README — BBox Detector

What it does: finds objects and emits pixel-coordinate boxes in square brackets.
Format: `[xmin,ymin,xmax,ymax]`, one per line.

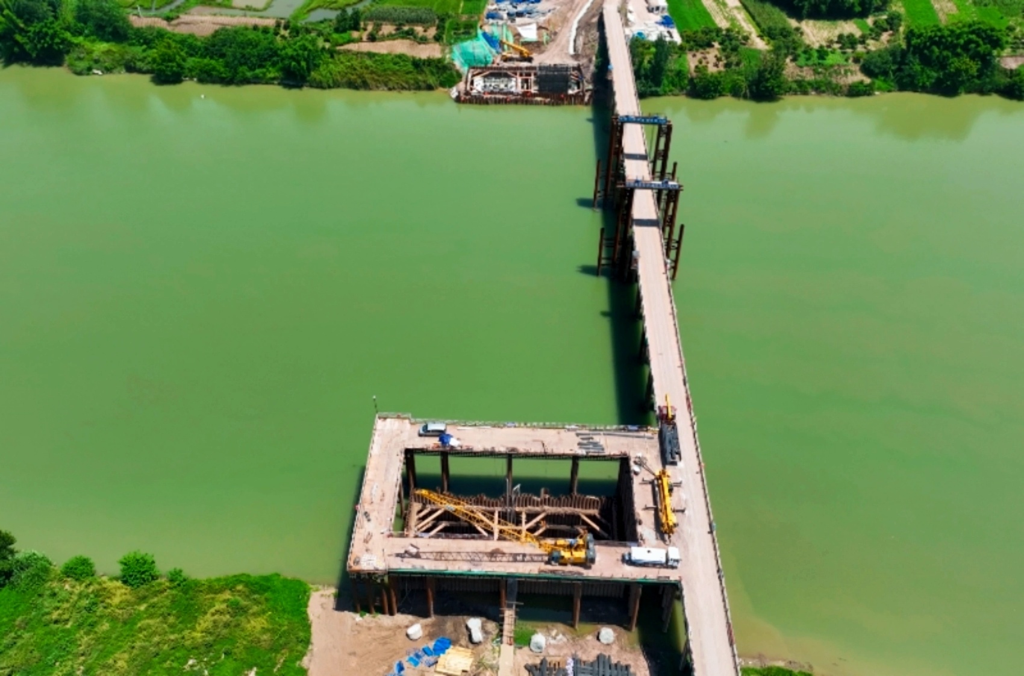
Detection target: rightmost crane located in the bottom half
[641,466,688,541]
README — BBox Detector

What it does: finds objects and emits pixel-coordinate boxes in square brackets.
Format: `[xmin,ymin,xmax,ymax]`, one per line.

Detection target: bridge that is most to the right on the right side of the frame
[604,7,746,676]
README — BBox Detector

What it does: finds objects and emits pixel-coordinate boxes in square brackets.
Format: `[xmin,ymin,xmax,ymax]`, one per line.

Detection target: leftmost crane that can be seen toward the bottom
[414,485,598,570]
